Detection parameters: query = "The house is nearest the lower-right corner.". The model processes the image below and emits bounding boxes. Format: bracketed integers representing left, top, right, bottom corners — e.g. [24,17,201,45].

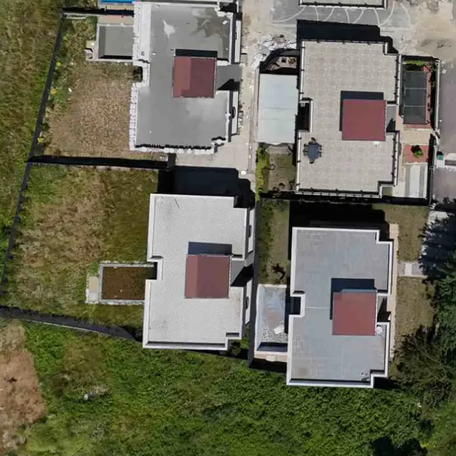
[287,216,400,388]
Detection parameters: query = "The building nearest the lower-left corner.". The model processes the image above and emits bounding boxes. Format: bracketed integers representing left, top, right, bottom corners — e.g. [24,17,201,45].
[142,185,259,350]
